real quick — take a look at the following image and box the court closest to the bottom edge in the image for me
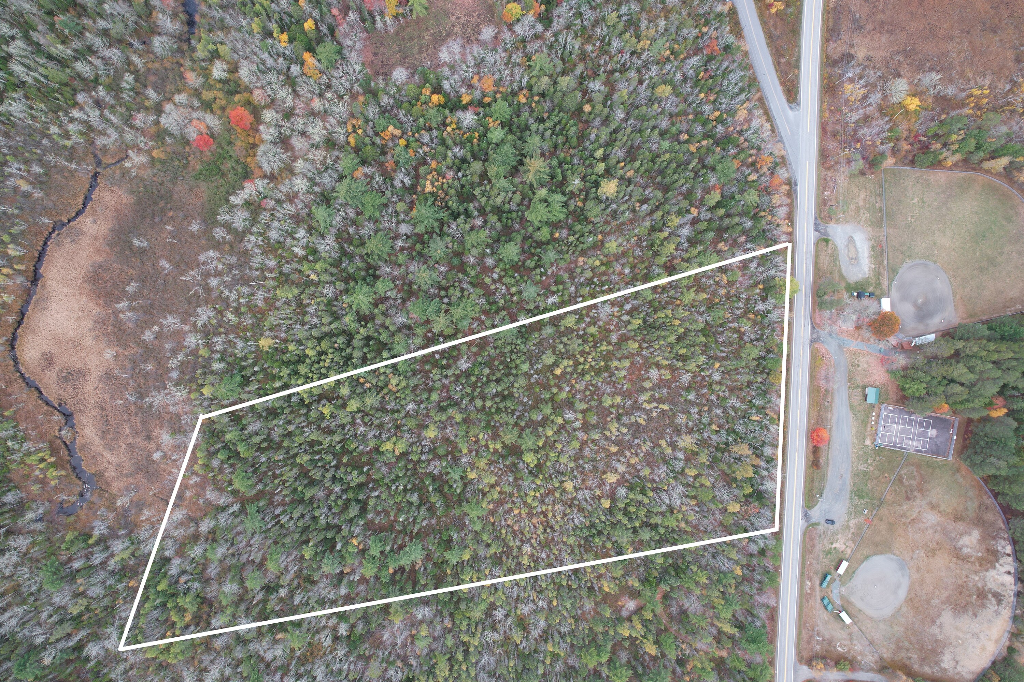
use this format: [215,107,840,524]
[877,405,952,459]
